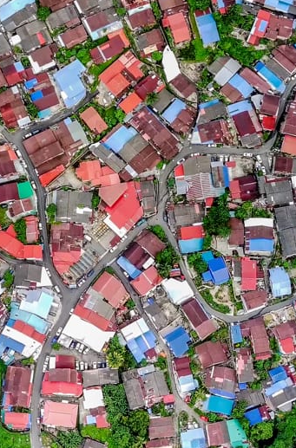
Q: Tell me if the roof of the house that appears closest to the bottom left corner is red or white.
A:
red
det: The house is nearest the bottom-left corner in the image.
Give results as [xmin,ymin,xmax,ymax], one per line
[2,409,33,431]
